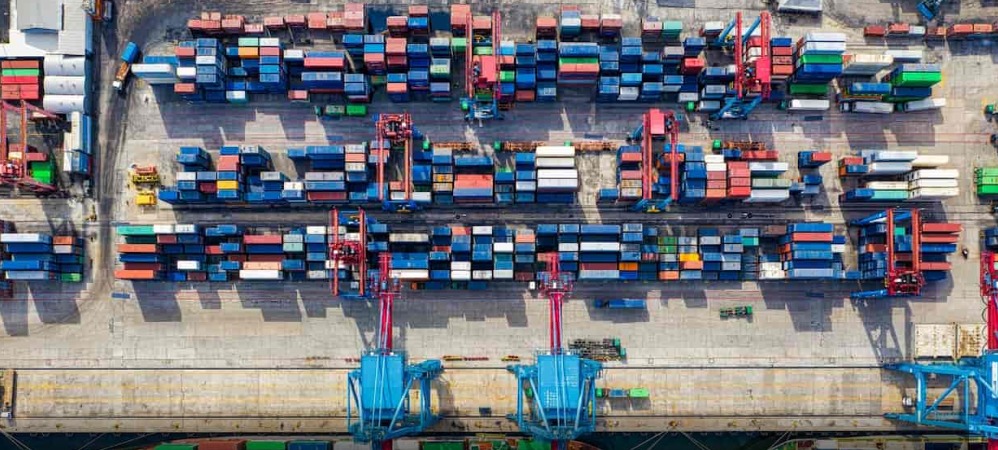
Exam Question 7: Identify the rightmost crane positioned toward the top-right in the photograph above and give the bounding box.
[710,11,771,117]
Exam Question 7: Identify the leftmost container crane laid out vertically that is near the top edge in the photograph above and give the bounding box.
[465,10,505,117]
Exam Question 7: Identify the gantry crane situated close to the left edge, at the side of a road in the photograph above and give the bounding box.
[0,97,72,195]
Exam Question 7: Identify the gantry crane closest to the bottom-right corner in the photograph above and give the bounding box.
[882,251,998,450]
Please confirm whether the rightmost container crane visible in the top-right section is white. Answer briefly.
No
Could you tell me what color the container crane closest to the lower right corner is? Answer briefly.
blue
